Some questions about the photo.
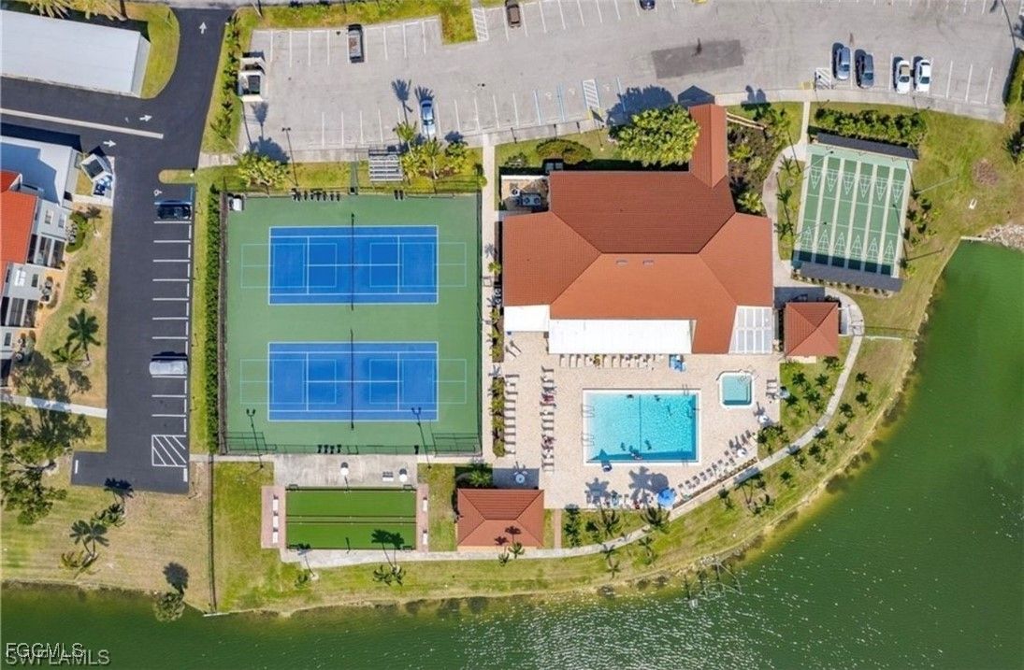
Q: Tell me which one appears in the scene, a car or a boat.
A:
car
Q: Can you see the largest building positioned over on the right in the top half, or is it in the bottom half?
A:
top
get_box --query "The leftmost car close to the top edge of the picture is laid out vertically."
[347,26,364,60]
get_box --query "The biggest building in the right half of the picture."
[502,104,774,355]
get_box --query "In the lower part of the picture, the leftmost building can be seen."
[457,488,545,552]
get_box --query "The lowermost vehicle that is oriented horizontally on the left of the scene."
[146,357,190,375]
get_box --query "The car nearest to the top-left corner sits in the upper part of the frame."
[156,203,190,218]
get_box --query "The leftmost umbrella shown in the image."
[656,486,676,506]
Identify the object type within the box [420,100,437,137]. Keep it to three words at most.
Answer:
car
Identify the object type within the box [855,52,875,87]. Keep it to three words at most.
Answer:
car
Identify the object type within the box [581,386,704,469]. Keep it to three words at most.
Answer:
swimming pool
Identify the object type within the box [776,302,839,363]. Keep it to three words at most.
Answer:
building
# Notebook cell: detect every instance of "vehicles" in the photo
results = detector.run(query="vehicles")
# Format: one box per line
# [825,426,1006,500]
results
[893,58,912,92]
[146,357,190,375]
[347,26,364,60]
[420,100,437,137]
[913,57,932,91]
[156,203,190,218]
[642,0,656,12]
[855,52,875,87]
[506,0,521,28]
[834,44,853,79]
